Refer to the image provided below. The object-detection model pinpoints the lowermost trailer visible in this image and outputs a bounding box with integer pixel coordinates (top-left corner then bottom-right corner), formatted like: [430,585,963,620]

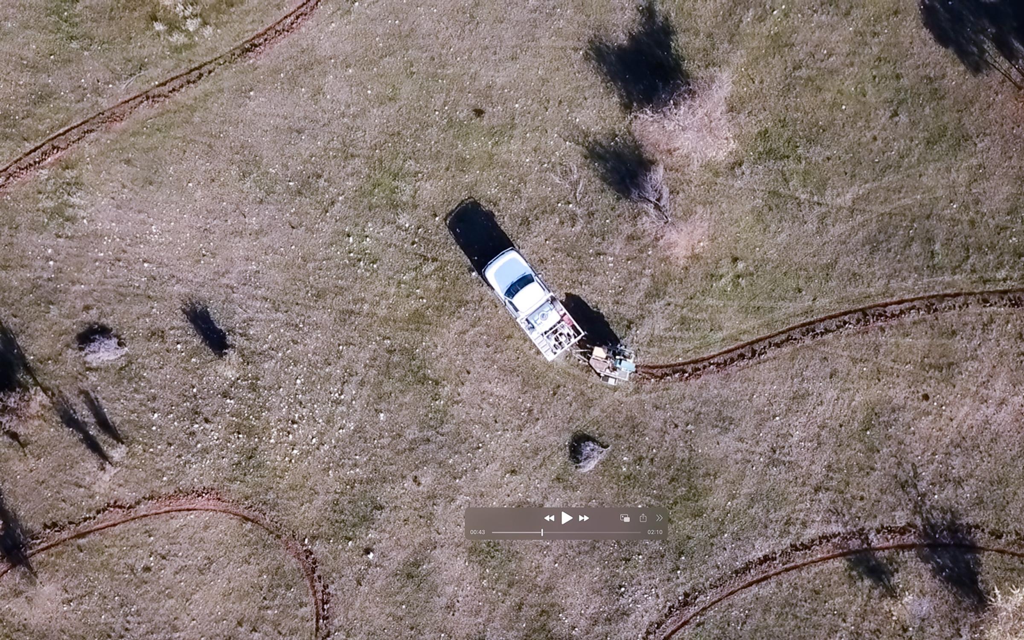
[570,340,638,386]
